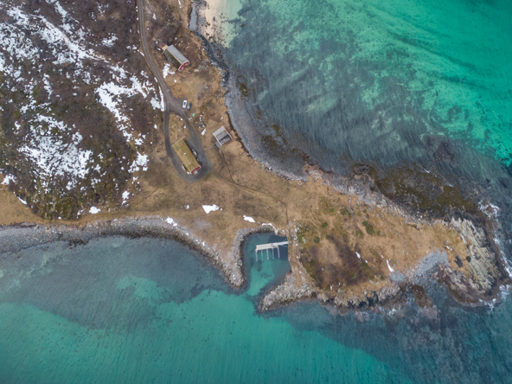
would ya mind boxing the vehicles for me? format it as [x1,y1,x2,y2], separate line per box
[182,100,188,108]
[187,102,193,110]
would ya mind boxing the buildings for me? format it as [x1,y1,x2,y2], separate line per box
[173,139,202,173]
[214,127,231,145]
[165,46,189,70]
